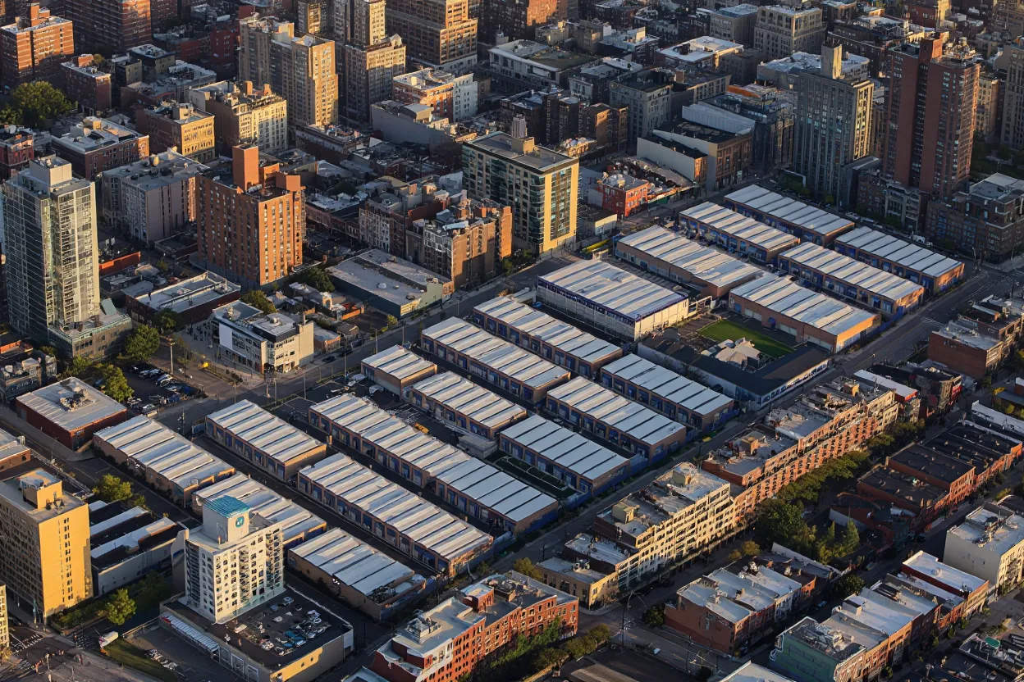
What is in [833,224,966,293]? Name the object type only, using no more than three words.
shed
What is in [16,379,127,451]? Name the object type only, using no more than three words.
building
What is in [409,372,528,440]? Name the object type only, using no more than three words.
shed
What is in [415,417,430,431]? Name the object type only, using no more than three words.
vehicle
